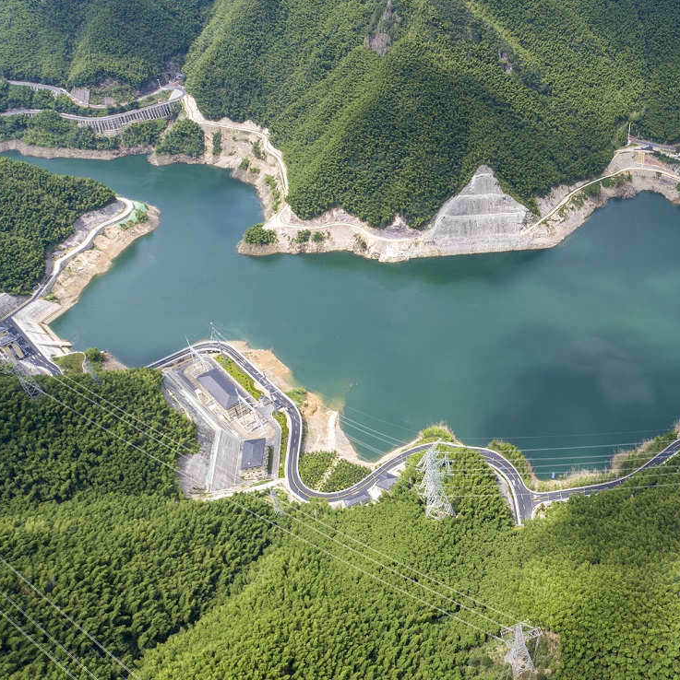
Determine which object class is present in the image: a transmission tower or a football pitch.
transmission tower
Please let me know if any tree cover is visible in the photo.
Yes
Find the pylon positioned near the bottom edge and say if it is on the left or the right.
right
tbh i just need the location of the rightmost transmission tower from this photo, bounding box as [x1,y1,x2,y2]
[496,626,541,677]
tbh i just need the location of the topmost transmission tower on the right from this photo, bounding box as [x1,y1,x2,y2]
[417,448,455,516]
